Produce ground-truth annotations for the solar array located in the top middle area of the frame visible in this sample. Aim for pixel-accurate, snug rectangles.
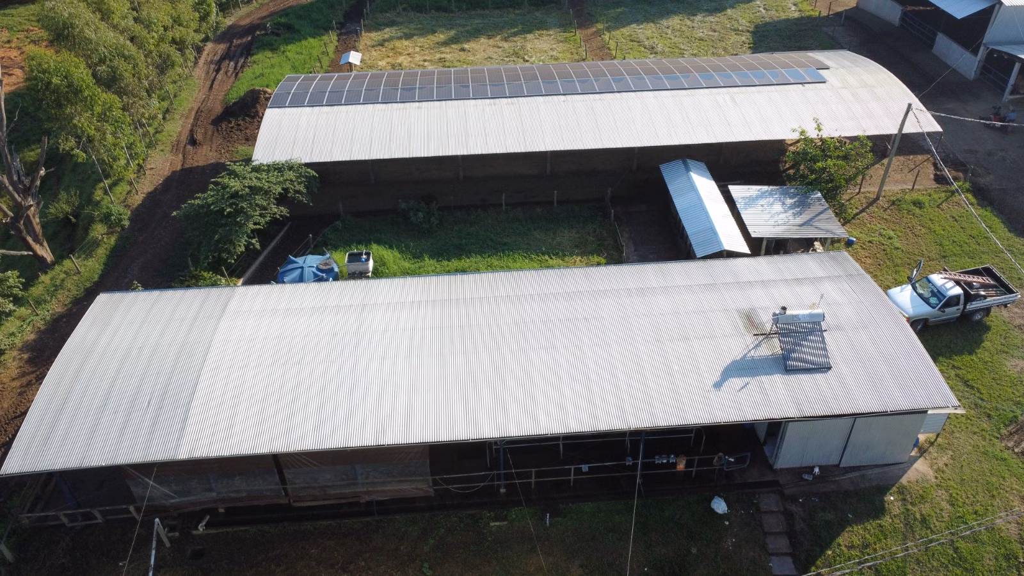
[270,51,828,106]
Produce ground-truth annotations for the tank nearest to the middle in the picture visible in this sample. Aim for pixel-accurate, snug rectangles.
[343,250,374,278]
